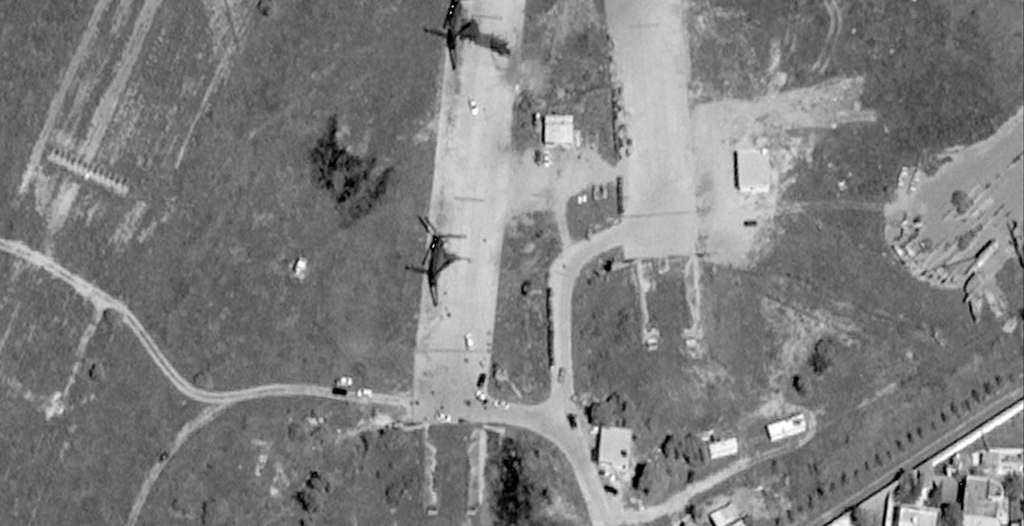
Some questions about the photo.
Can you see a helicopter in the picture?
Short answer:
Yes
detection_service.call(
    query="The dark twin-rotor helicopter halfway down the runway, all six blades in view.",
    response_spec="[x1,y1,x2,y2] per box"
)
[407,215,467,303]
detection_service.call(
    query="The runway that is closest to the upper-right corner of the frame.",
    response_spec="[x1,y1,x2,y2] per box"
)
[607,0,699,258]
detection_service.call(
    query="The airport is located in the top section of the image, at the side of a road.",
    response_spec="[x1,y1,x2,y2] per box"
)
[413,0,758,412]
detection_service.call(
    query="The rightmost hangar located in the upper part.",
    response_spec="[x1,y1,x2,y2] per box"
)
[737,150,770,191]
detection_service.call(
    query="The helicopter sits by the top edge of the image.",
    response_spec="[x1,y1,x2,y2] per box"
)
[426,0,473,63]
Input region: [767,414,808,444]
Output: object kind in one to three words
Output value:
building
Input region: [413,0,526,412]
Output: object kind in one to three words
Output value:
runway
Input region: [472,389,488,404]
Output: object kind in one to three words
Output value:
vehicle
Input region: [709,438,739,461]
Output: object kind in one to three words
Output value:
house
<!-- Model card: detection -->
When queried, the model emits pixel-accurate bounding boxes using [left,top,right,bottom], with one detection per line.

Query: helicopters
[407,215,467,303]
[426,0,473,63]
